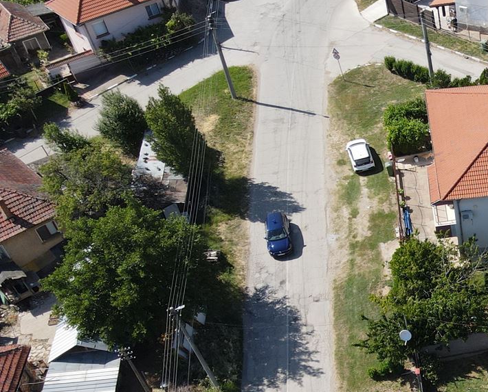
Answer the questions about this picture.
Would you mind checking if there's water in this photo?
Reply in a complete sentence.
No, there's no water in this view.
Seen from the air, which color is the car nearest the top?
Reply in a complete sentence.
The car nearest the top is white.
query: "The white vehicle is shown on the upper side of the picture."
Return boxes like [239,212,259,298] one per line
[344,135,373,168]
